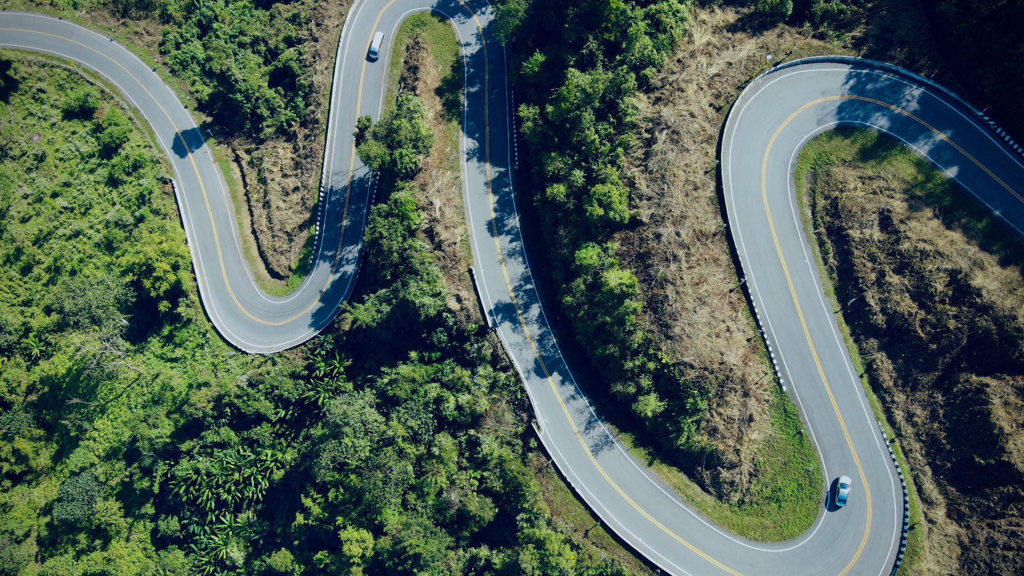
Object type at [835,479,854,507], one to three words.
car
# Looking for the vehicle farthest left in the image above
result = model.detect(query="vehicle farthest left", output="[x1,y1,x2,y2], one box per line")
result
[367,30,382,60]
